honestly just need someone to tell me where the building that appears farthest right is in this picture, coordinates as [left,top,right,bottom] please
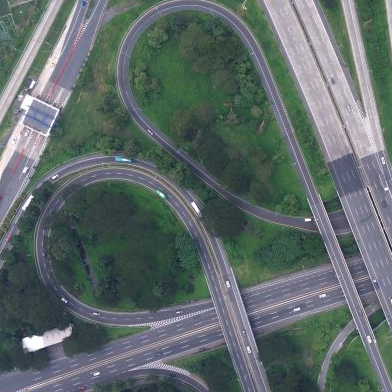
[43,323,73,346]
